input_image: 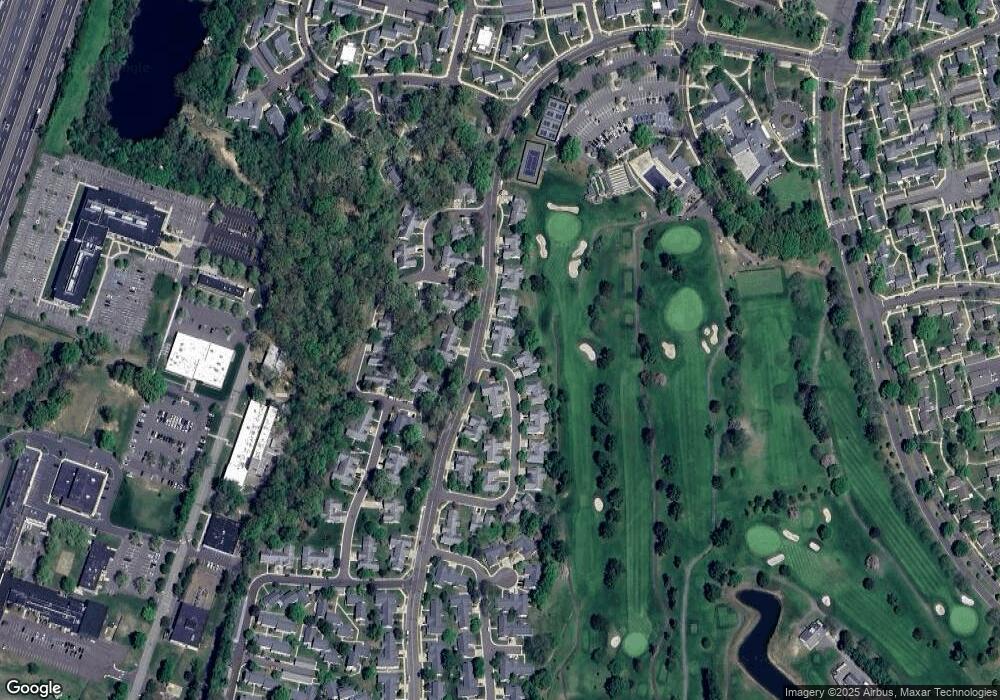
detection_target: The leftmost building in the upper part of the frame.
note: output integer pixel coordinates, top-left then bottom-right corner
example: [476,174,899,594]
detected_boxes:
[54,187,169,309]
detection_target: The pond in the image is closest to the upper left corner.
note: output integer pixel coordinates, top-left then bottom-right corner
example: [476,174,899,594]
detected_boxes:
[108,0,208,139]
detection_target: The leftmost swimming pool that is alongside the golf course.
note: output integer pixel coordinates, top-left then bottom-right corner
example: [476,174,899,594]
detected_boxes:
[630,151,679,201]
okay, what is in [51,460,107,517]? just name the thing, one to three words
building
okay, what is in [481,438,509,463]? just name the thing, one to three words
house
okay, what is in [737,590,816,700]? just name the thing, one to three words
pond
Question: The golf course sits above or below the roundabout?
below it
